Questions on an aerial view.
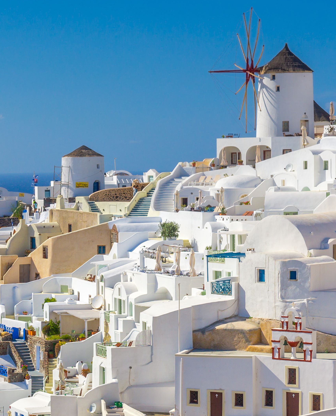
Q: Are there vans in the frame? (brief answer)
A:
No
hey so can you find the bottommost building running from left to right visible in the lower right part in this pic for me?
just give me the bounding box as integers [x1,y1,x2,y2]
[169,349,336,416]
